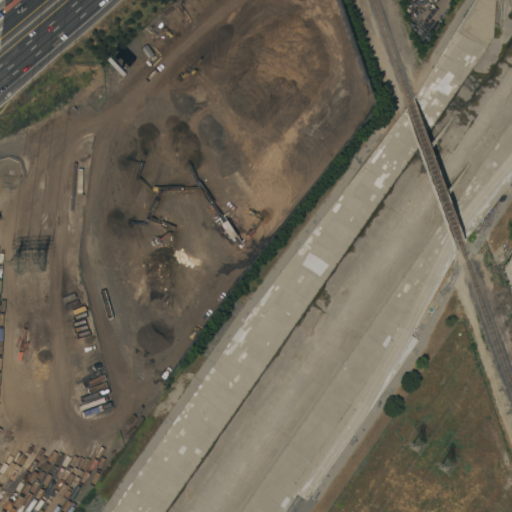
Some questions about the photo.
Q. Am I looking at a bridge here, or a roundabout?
bridge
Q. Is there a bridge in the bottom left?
No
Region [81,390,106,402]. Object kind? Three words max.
vehicle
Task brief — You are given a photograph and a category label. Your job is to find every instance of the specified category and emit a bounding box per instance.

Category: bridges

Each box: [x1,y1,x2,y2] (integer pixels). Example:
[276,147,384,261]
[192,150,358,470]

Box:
[404,103,471,254]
